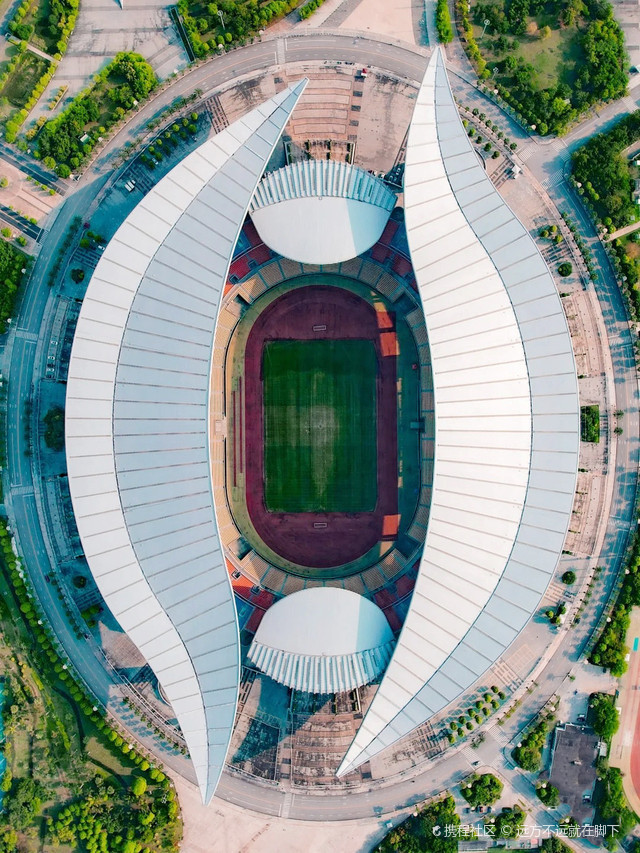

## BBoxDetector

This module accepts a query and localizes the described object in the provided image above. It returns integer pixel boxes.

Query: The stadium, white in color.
[65,47,580,806]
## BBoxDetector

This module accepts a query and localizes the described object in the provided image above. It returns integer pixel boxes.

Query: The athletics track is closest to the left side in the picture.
[245,285,398,566]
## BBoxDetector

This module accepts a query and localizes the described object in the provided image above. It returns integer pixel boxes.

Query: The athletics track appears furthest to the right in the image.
[609,603,640,828]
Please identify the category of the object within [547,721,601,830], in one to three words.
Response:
building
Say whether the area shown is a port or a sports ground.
sports ground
